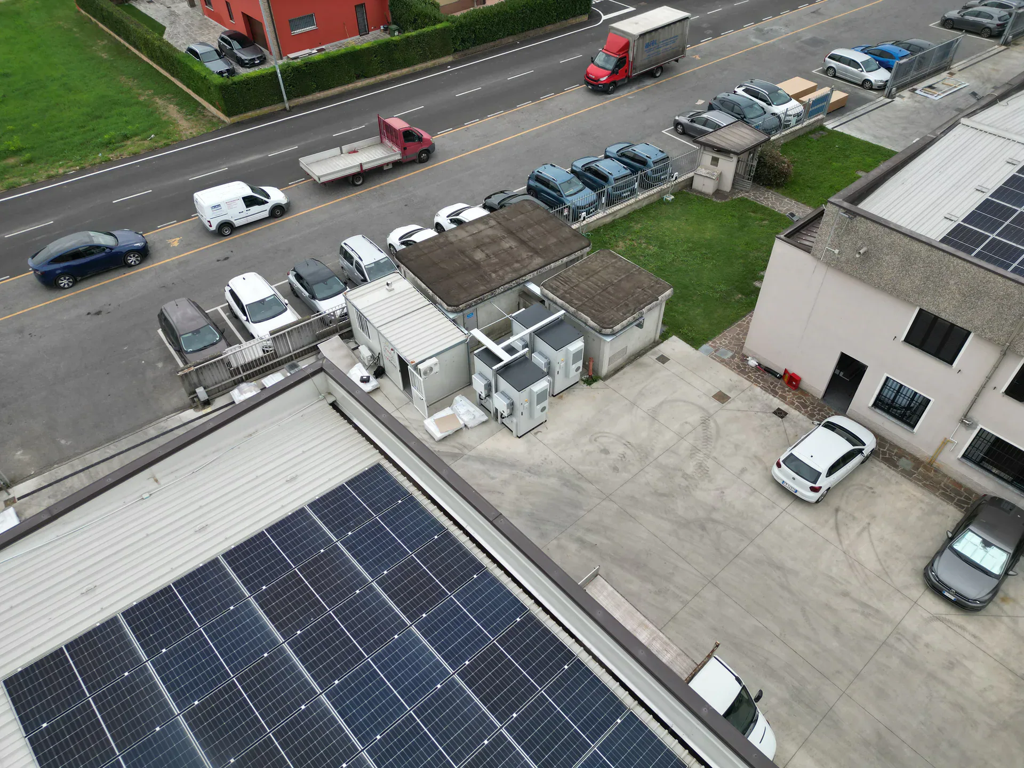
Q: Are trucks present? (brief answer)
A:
Yes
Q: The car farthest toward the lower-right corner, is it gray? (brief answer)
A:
Yes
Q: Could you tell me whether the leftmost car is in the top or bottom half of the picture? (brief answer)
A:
top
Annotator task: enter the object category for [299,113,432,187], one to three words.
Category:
truck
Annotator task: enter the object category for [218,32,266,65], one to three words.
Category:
car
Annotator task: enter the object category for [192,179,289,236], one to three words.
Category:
van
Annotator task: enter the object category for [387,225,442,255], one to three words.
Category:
car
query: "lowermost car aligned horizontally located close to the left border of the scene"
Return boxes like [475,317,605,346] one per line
[24,230,145,291]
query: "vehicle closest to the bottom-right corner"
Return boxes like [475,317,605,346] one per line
[921,486,1024,610]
